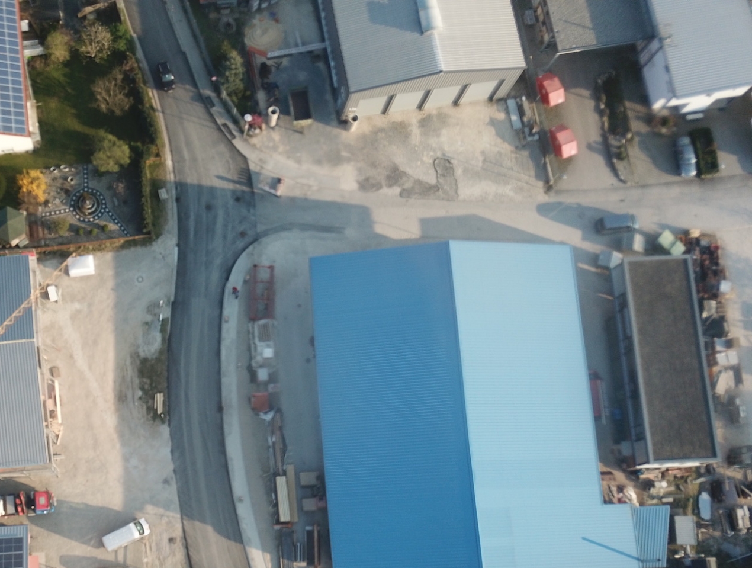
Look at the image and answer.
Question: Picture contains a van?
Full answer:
Yes, you can see a van in this photo.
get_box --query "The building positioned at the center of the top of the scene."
[322,0,527,118]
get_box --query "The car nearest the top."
[157,58,177,92]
